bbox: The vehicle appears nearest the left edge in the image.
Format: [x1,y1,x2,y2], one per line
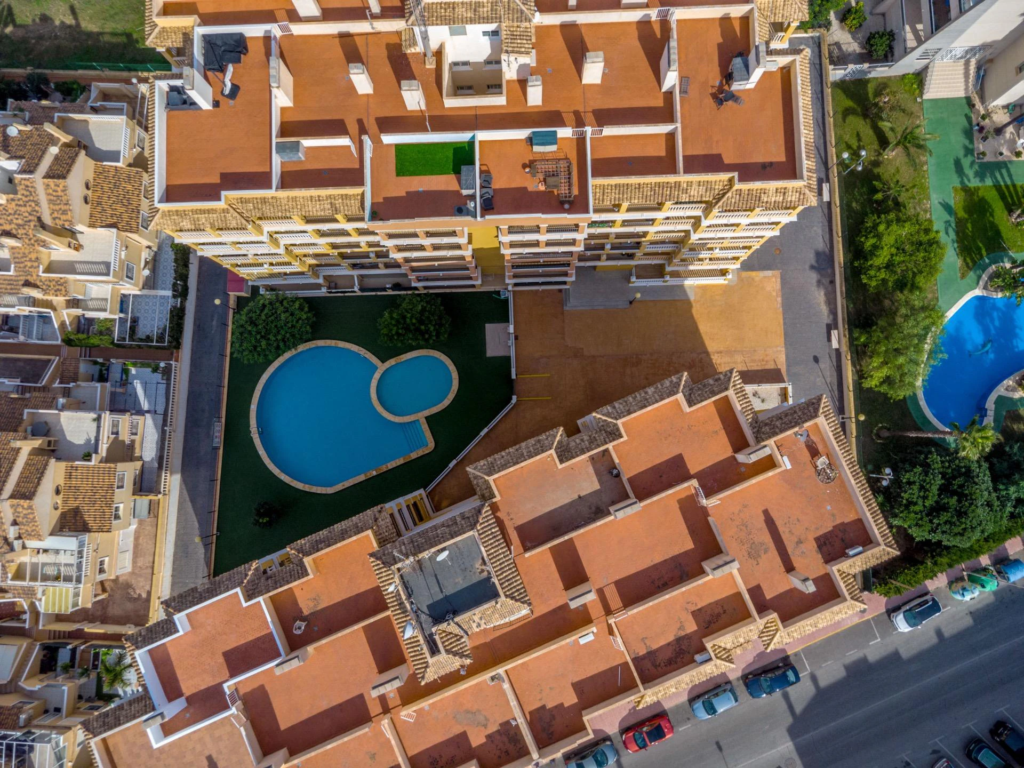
[564,738,618,768]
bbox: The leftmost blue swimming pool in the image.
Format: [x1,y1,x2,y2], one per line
[250,339,459,493]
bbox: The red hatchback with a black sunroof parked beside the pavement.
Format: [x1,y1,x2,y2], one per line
[621,712,675,752]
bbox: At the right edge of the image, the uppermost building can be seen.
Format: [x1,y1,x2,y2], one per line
[855,0,1024,126]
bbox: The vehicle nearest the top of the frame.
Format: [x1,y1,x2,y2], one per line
[886,592,946,631]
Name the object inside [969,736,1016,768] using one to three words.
car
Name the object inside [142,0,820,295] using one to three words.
building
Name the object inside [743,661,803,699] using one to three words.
car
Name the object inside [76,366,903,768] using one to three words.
building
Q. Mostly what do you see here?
buildings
